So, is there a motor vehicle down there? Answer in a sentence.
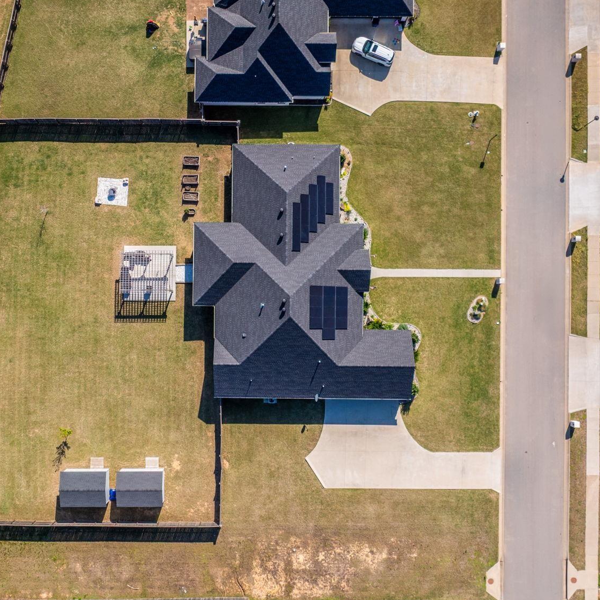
Yes, you can see a motor vehicle in this photo.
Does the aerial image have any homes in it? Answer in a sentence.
Yes, a home can be made out from above.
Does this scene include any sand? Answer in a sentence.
No, sand can't be seen anywhere here.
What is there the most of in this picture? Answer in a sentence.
What you mostly see from above here is grass.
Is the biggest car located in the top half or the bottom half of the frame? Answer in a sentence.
You can find the biggest car in the top half.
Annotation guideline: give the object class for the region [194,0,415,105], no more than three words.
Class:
house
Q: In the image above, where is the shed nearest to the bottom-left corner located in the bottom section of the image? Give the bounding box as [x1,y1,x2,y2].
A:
[58,457,109,507]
